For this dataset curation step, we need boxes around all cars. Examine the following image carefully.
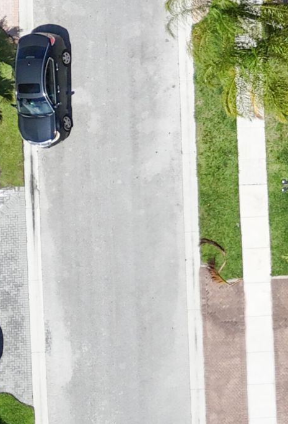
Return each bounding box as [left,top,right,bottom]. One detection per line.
[12,33,74,148]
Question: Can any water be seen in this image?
No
